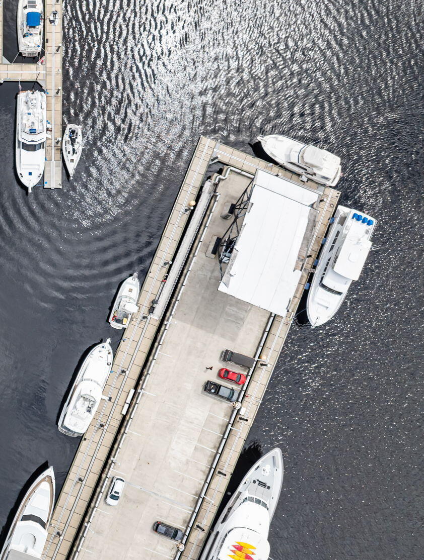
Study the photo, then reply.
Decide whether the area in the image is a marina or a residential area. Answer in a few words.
marina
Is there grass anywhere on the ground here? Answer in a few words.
No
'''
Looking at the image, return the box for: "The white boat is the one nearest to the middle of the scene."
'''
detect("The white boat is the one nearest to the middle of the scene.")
[111,270,140,329]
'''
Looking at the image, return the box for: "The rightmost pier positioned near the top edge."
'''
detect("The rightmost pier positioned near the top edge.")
[44,0,62,161]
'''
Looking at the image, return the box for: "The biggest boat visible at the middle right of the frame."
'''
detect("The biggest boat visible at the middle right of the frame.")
[296,207,386,327]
